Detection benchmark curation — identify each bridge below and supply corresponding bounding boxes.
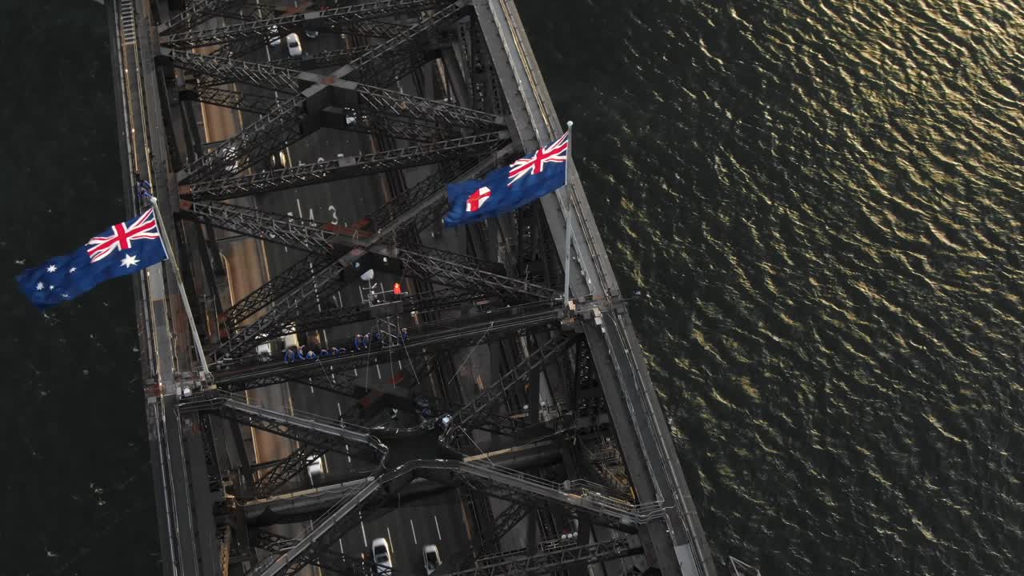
[108,0,713,576]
